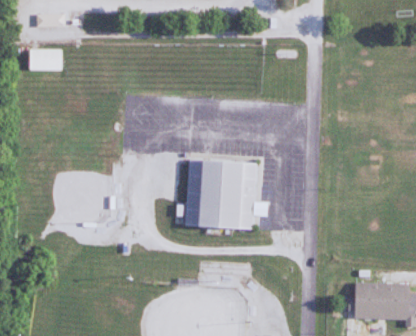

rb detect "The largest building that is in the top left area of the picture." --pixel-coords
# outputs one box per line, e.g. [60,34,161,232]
[28,48,62,72]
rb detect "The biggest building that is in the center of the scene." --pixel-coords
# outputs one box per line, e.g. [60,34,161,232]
[175,160,270,229]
